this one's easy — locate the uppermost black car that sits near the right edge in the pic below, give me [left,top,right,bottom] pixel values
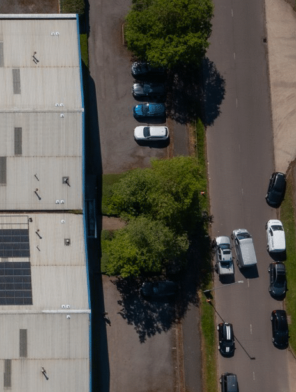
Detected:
[262,170,288,207]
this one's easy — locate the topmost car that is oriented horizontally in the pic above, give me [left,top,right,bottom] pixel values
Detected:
[129,61,168,80]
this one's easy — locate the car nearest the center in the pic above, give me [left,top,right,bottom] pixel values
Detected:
[132,125,170,144]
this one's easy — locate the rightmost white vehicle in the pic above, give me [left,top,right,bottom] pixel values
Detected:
[262,219,289,255]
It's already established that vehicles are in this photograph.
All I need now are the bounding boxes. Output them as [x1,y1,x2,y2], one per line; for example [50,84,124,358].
[217,374,238,392]
[265,263,288,298]
[132,125,170,144]
[215,325,235,357]
[129,61,168,80]
[262,170,288,207]
[212,237,236,277]
[230,229,261,271]
[266,312,290,350]
[262,219,289,255]
[131,82,169,99]
[132,102,167,120]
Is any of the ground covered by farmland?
No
